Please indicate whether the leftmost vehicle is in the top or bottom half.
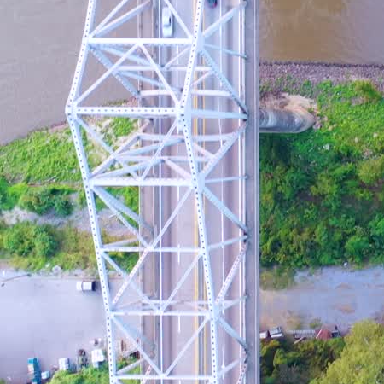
bottom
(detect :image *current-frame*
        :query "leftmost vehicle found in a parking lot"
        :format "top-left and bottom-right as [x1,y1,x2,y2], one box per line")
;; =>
[20,355,41,384]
